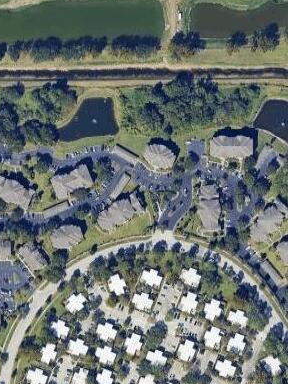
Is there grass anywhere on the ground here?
Yes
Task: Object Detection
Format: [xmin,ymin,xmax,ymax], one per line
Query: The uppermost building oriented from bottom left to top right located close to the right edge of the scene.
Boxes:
[248,196,288,244]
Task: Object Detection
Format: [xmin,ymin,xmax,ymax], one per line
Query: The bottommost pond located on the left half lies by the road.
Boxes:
[57,97,119,143]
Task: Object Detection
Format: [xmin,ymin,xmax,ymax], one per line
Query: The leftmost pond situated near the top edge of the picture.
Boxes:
[0,0,166,42]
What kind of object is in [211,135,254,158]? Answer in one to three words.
building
